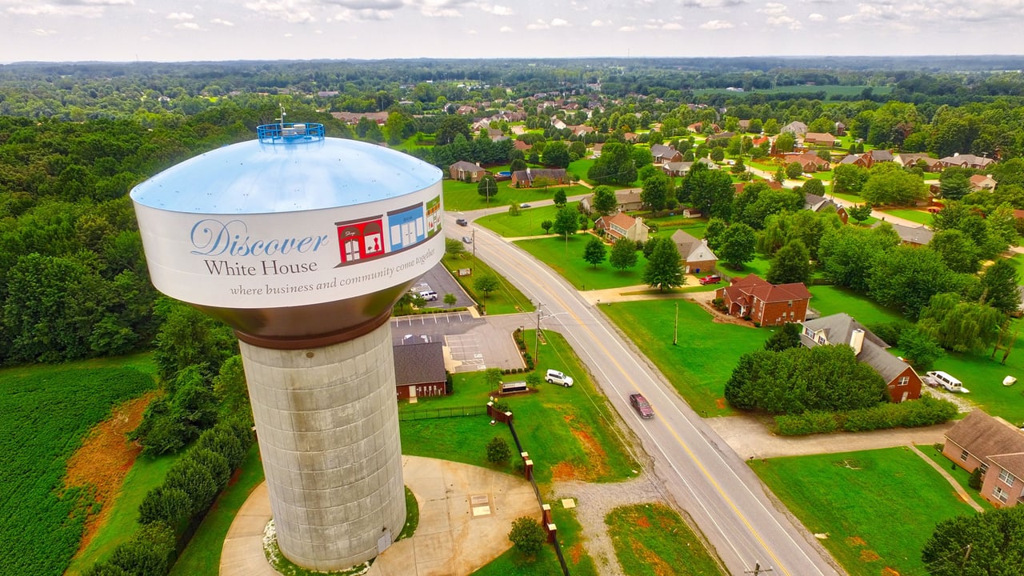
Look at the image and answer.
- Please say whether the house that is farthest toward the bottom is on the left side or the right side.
right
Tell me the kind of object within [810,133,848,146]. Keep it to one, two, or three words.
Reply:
house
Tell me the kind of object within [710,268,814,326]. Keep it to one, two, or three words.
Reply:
house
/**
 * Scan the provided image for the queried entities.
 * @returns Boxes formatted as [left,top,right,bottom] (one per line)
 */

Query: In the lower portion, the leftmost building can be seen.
[395,329,450,400]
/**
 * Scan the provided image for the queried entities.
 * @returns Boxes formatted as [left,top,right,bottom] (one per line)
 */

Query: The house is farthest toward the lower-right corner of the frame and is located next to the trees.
[940,403,1024,512]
